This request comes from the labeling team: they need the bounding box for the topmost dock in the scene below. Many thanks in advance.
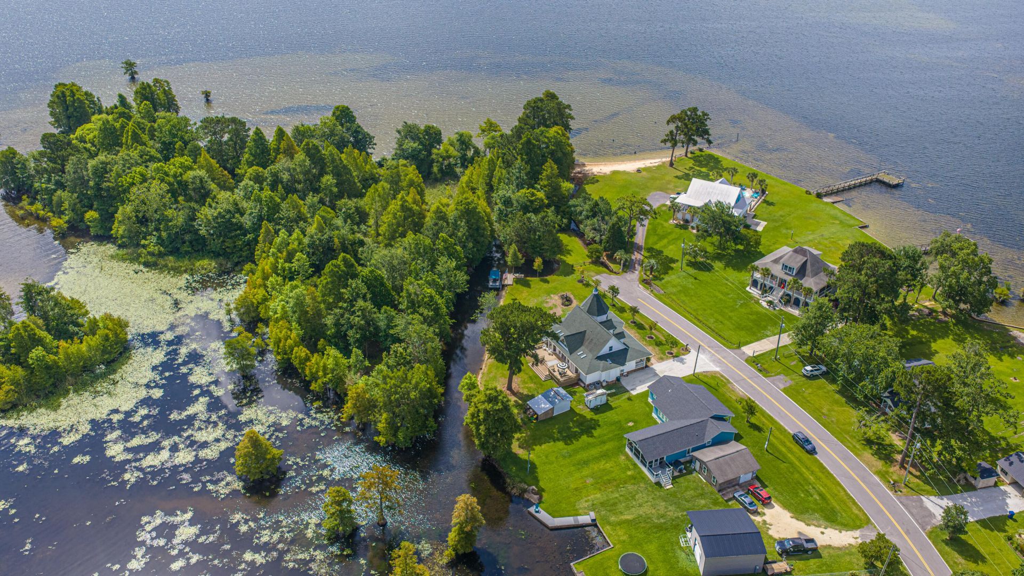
[812,169,907,195]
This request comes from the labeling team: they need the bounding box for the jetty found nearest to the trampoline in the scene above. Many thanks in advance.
[528,502,597,532]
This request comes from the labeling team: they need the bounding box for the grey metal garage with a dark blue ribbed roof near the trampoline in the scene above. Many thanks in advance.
[686,508,766,572]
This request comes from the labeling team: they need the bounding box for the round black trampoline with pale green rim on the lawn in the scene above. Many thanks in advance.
[620,552,648,575]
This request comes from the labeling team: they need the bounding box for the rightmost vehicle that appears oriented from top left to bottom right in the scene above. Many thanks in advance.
[792,433,818,456]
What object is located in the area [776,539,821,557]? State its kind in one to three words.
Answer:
vehicle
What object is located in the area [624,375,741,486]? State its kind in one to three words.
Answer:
house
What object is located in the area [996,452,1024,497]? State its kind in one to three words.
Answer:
building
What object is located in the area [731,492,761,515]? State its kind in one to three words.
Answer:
car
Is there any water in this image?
Yes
